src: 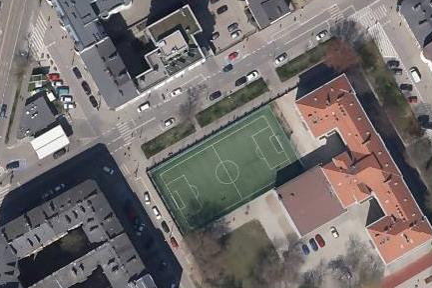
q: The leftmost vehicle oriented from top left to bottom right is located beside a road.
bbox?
[44,88,57,104]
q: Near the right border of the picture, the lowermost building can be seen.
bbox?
[294,71,432,266]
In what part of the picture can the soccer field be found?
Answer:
center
